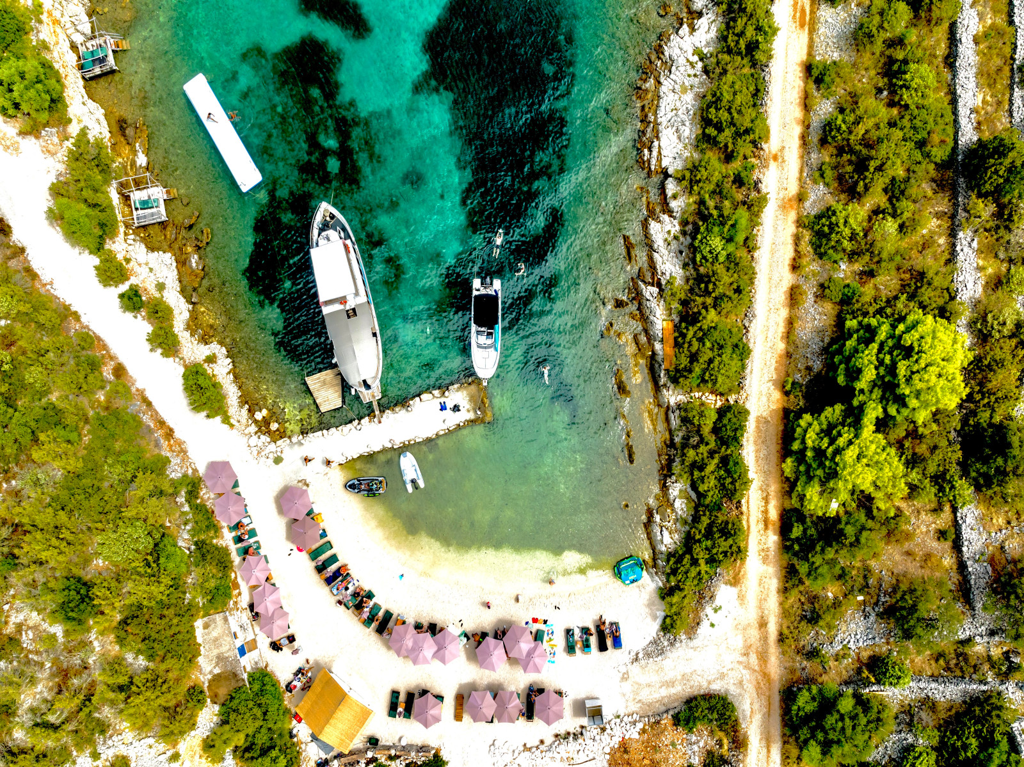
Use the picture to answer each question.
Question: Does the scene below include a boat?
Yes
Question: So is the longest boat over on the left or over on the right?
left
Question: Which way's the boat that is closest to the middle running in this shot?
vertically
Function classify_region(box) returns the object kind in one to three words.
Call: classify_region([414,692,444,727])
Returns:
umbrella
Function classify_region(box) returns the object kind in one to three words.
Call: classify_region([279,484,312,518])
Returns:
umbrella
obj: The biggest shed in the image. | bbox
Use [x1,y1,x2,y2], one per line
[295,667,373,755]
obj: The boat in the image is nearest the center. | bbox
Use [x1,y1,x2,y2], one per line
[469,275,501,386]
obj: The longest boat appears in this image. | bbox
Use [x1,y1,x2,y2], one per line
[310,202,383,403]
